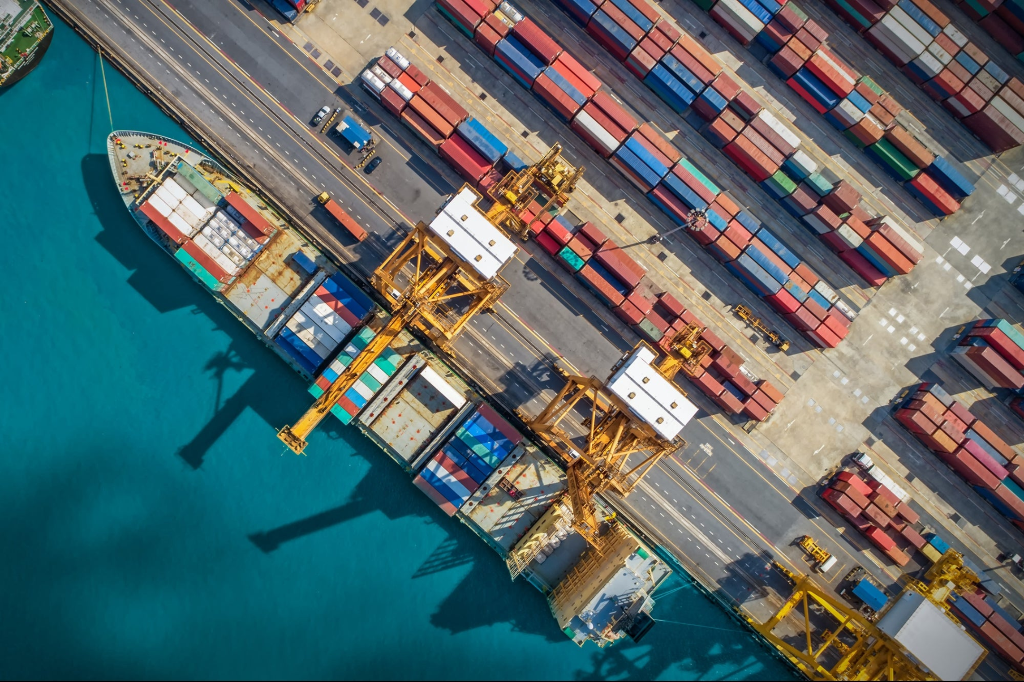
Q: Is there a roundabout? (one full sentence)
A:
No, the picture doesn't show any roundabout.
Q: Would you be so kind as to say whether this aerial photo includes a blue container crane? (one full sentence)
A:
No, I can see no blue container crane in this picture.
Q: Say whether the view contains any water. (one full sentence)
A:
Yes, the picture does contain water.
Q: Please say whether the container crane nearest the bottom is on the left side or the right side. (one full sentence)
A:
The container crane nearest the bottom sits on the right side.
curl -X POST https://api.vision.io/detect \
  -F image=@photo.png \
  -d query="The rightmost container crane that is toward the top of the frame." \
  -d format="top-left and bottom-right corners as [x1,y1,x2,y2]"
[504,137,591,243]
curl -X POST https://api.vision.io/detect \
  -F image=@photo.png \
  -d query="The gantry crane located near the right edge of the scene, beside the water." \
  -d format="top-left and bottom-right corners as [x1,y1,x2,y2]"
[750,555,990,682]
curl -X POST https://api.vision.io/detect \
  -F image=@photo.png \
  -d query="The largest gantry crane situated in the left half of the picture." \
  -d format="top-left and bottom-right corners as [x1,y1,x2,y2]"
[264,165,543,472]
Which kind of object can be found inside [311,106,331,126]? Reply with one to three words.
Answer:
vehicle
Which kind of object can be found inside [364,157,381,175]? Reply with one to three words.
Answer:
car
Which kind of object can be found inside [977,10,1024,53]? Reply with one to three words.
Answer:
shipping container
